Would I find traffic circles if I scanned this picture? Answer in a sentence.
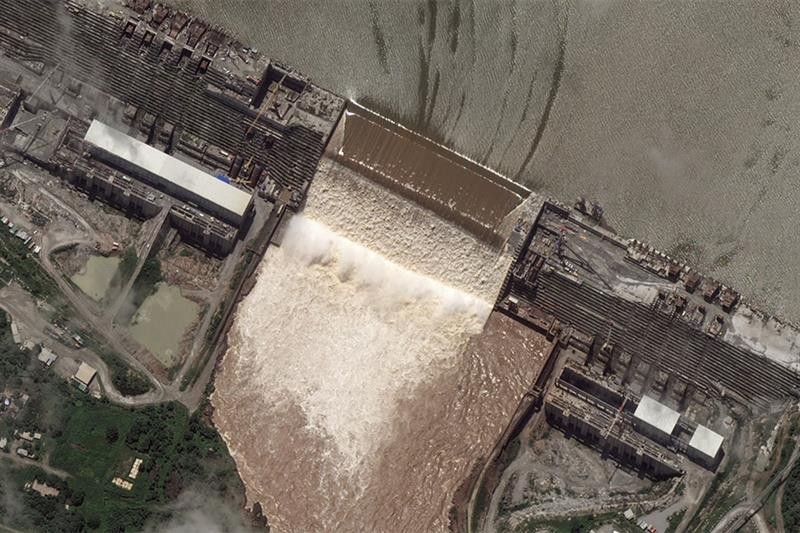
No, the photo shows no traffic circle.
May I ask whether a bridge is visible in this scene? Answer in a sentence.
Yes, a bridge is visible in the scene.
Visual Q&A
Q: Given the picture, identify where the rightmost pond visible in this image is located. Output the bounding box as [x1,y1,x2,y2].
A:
[132,284,198,366]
